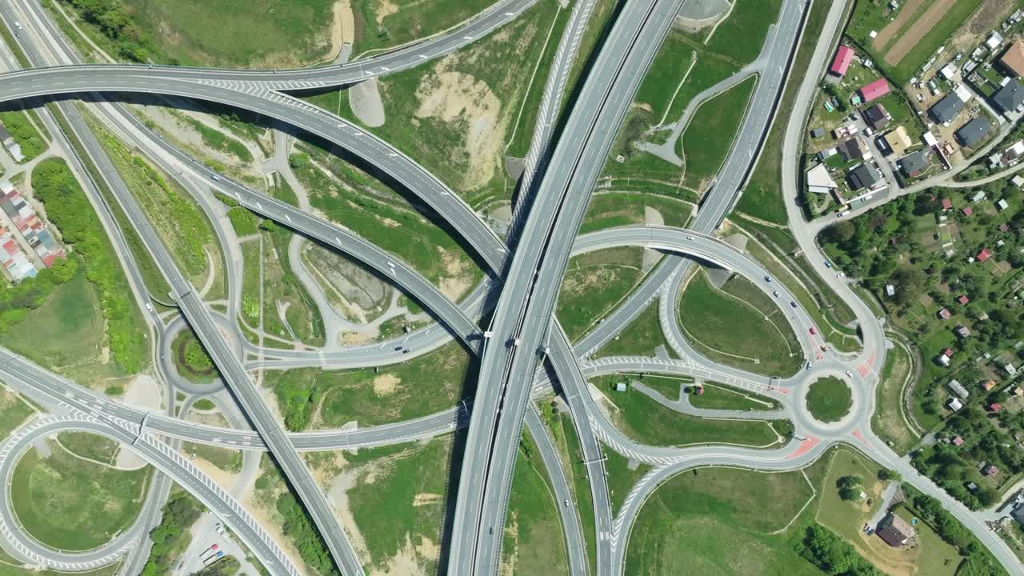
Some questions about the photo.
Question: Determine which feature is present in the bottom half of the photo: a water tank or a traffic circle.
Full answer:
There is a traffic circle in the bottom half of the photo.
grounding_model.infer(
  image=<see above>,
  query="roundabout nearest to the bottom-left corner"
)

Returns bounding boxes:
[160,314,243,395]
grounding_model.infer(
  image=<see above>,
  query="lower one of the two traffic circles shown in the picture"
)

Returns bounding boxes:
[788,360,869,440]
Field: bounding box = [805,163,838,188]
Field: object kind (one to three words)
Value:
building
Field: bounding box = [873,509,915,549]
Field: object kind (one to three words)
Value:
house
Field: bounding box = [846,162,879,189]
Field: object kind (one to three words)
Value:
house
